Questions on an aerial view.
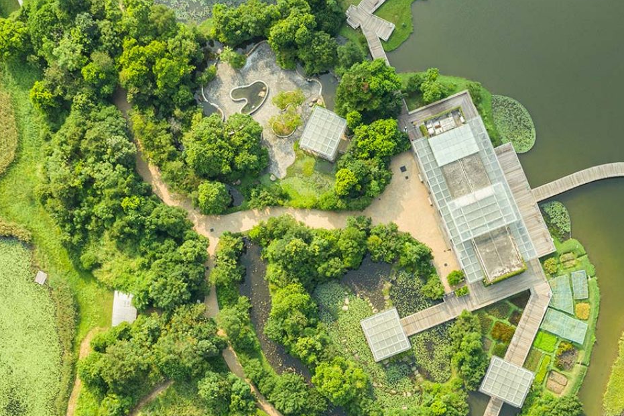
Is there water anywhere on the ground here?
Yes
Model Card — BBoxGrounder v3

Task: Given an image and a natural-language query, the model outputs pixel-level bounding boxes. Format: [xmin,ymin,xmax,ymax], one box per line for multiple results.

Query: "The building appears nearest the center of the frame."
[300,106,346,162]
